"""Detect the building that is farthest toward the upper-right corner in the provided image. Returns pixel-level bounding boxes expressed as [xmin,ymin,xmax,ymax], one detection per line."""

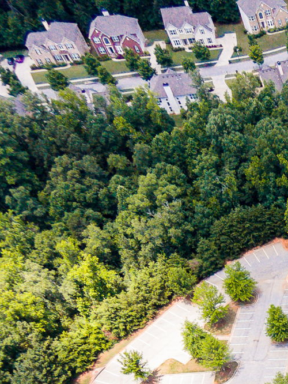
[237,0,288,33]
